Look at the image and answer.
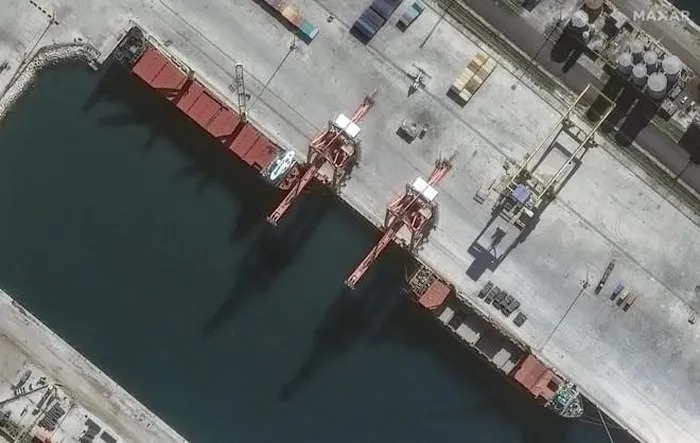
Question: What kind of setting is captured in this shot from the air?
port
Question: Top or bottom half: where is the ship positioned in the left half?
top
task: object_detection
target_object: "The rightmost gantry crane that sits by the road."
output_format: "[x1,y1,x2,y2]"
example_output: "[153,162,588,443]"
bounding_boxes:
[487,85,617,230]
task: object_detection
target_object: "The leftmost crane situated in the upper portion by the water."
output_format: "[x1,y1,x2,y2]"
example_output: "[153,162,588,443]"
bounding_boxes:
[264,96,380,228]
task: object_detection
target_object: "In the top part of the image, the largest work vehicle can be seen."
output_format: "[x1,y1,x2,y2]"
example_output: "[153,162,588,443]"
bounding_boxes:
[409,65,434,92]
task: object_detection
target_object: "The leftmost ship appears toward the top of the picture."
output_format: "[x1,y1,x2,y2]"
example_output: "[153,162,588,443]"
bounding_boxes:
[117,33,305,191]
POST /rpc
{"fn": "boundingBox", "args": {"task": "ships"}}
[117,33,305,191]
[403,267,582,418]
